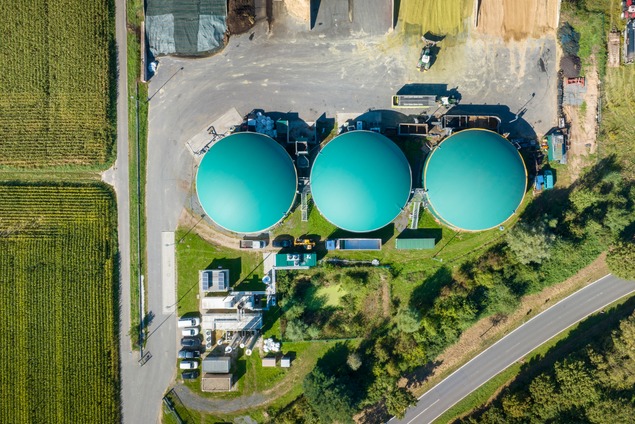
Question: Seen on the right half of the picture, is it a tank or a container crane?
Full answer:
Looking on the right half of the picture, you will find a tank.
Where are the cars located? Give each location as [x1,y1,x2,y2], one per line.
[177,317,201,327]
[179,348,200,358]
[180,369,199,379]
[272,239,292,249]
[180,360,199,369]
[180,327,200,337]
[180,337,202,347]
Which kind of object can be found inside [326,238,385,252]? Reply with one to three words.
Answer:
vehicle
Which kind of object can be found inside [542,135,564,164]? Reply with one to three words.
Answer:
shed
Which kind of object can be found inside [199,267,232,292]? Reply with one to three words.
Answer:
building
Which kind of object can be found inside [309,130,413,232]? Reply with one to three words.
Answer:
storage tank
